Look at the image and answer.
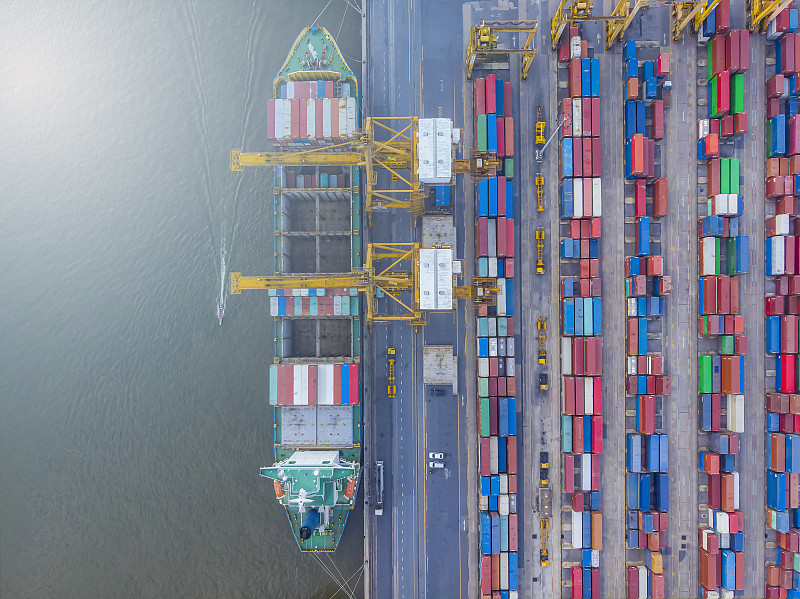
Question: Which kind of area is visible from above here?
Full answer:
This looks like a port.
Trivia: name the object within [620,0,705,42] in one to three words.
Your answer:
container crane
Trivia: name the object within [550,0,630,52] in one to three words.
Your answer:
container crane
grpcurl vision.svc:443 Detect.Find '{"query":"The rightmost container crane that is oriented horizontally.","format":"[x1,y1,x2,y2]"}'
[695,0,788,33]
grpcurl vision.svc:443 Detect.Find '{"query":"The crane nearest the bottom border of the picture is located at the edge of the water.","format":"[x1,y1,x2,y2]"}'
[228,239,500,340]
